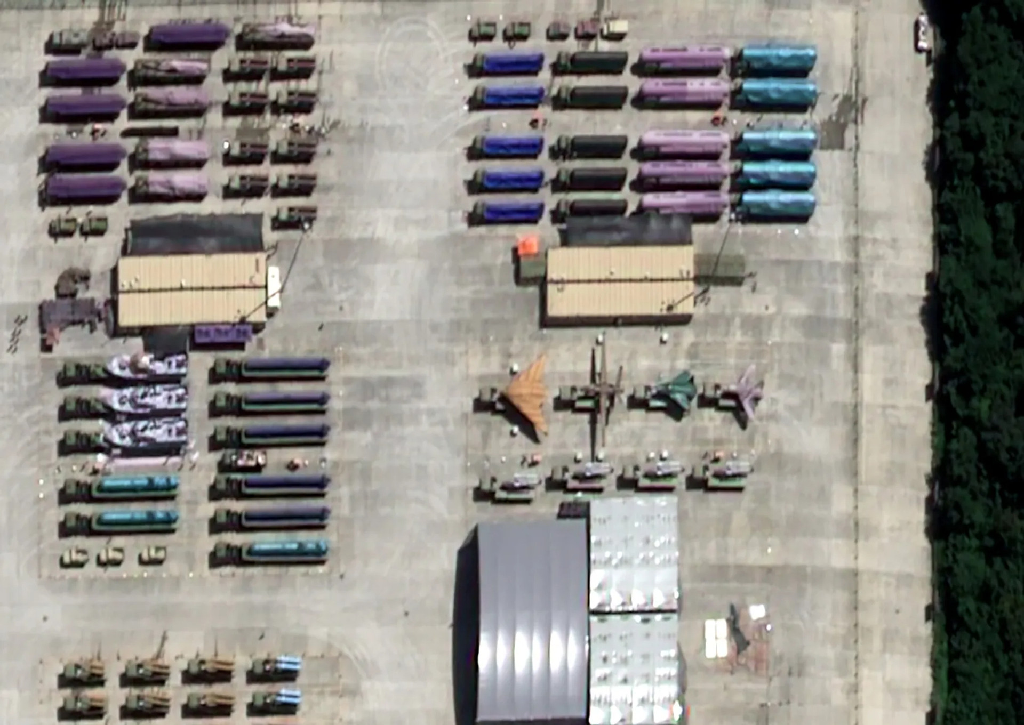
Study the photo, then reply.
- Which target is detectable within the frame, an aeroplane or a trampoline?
aeroplane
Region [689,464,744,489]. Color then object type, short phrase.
gray truck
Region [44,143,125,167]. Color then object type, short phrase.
purple truck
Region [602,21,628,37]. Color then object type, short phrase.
white car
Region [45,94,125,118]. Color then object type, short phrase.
purple truck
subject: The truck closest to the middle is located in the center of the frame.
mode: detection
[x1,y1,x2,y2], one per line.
[477,387,520,411]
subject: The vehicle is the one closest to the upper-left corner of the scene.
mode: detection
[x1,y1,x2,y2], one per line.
[50,30,88,50]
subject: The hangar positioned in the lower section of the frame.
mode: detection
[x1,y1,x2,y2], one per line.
[470,519,591,725]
